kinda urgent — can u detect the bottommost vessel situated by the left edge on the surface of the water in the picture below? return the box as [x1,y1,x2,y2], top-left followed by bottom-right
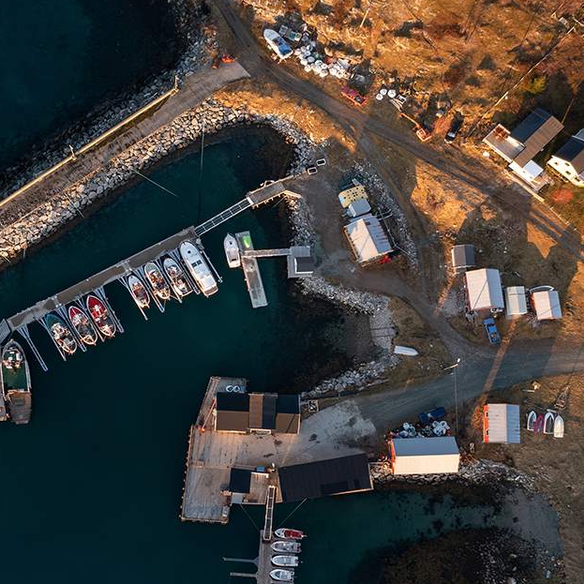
[7,391,32,425]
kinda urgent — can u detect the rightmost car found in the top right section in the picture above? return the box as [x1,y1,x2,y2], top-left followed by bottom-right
[446,127,460,142]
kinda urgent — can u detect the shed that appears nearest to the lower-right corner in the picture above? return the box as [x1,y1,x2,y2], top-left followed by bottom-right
[482,403,522,444]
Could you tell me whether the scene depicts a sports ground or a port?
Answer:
port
